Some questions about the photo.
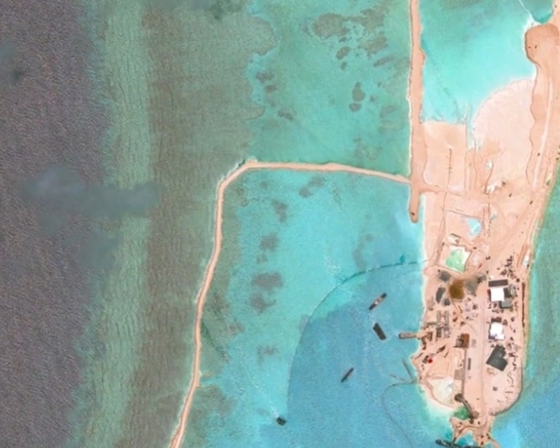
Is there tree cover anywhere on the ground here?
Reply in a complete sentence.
No, tree cover can't be seen anywhere here.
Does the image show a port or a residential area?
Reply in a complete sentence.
This image shows a port.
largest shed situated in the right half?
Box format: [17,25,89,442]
[486,344,508,371]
